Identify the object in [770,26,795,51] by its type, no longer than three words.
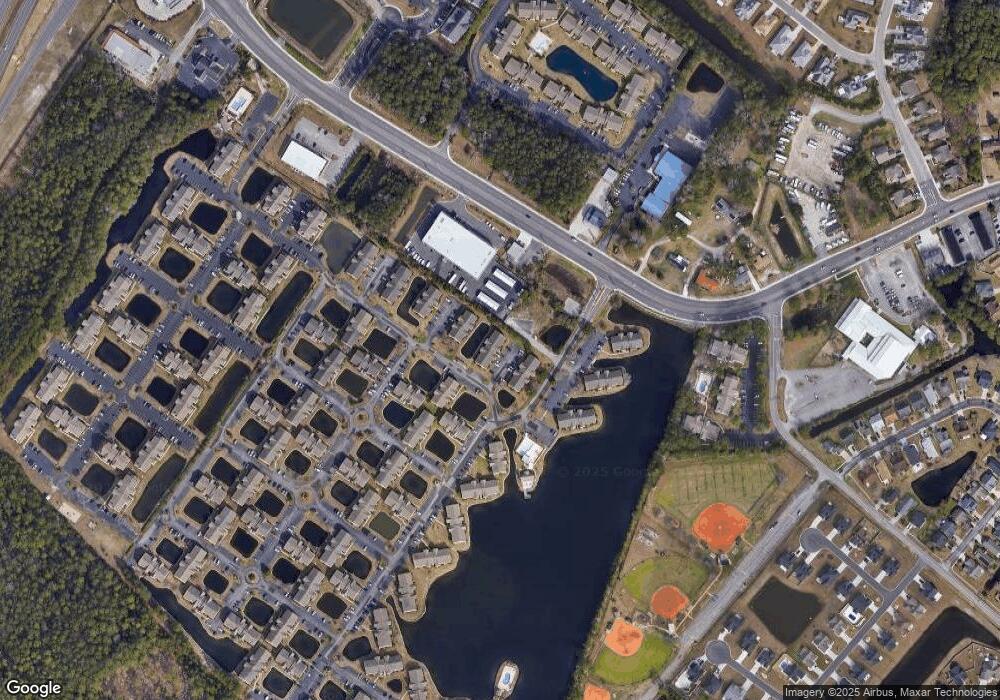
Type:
house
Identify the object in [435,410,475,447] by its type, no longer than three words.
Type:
building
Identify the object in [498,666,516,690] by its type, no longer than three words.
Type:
swimming pool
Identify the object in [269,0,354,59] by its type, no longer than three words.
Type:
pond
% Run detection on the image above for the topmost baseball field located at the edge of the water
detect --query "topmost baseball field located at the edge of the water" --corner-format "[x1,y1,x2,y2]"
[654,455,779,555]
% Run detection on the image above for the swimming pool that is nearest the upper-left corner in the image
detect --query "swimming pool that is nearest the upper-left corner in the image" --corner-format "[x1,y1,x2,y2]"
[228,87,254,118]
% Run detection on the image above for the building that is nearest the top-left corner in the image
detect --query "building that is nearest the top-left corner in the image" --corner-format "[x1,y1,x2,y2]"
[104,30,161,81]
